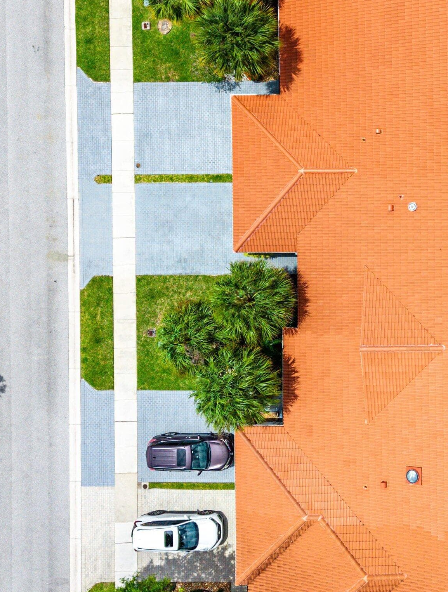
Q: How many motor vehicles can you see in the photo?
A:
2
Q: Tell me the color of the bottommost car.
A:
white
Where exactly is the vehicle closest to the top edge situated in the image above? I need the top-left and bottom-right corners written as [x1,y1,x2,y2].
[144,435,237,483]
